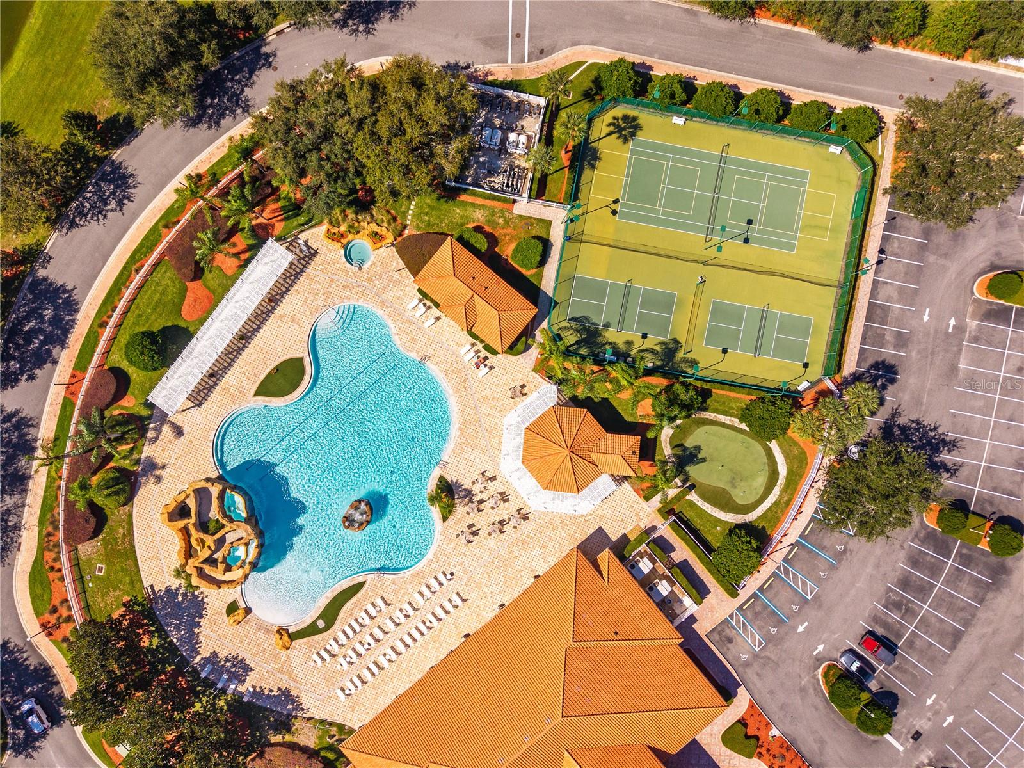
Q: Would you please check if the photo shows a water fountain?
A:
Yes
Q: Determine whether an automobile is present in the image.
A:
Yes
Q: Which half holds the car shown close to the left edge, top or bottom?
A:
bottom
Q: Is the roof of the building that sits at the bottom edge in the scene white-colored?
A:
No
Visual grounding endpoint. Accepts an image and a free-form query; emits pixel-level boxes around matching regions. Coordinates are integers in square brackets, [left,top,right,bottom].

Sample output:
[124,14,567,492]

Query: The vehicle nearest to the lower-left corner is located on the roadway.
[23,697,50,734]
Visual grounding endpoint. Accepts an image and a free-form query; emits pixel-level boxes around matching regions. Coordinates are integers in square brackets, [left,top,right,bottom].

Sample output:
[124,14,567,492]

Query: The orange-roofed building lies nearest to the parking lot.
[338,548,729,768]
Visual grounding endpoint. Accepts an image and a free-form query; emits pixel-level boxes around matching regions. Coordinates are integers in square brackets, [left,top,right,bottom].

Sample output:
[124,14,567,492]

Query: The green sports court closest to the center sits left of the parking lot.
[567,275,677,339]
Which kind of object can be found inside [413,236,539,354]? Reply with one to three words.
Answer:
building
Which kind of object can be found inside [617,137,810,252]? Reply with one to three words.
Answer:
tennis court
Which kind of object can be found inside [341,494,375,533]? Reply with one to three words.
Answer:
fountain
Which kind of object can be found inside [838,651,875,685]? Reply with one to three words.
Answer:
car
